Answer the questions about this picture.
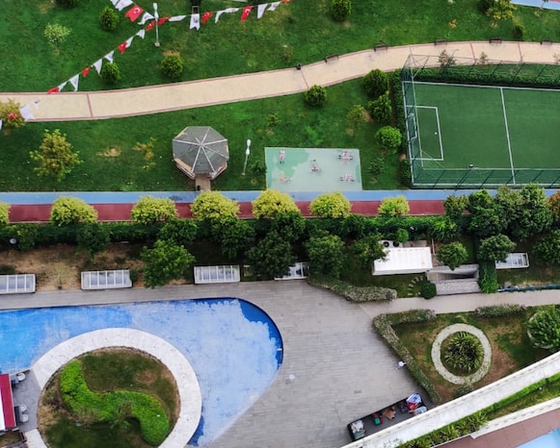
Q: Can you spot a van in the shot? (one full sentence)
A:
No, I can see no van in this picture.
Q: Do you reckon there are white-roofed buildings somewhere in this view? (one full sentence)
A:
Yes, I can see a white-roofed building in this picture.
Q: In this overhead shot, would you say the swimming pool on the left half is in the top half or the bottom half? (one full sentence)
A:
You can find the swimming pool on the left half in the bottom half.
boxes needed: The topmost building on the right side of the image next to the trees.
[369,246,432,275]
